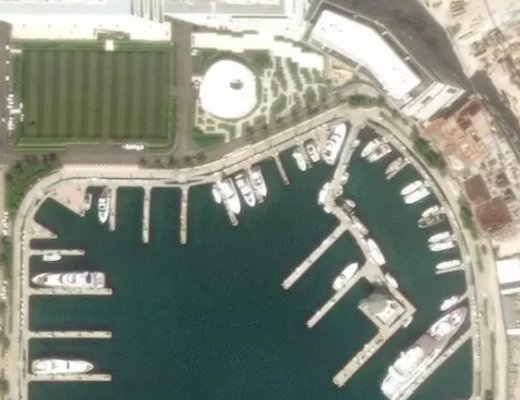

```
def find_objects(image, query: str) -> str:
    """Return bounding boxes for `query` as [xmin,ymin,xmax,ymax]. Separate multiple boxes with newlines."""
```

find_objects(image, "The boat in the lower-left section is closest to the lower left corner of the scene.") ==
[30,359,94,374]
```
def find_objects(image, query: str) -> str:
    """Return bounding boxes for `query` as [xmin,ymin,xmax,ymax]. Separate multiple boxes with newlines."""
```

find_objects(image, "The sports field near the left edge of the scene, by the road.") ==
[9,40,176,150]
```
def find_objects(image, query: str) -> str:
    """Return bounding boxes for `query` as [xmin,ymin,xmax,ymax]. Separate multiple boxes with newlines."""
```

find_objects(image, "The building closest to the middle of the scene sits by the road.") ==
[199,60,258,117]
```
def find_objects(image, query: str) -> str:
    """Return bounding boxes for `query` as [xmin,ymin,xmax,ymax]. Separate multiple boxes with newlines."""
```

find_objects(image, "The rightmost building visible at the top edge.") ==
[303,2,434,101]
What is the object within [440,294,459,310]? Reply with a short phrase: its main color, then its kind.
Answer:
white boat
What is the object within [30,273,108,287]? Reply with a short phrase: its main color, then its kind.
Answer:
white boat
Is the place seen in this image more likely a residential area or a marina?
marina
